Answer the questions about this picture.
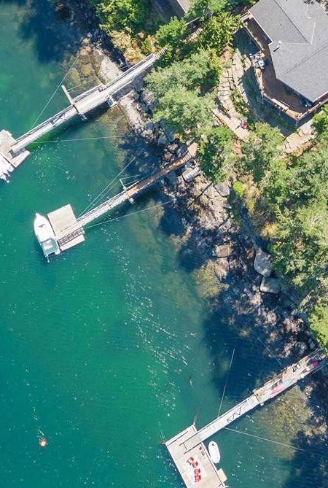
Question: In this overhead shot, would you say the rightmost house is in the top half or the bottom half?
top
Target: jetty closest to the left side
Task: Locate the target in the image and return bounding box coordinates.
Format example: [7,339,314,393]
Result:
[0,129,32,168]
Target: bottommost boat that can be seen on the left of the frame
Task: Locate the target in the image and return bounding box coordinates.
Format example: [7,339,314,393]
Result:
[34,212,60,265]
